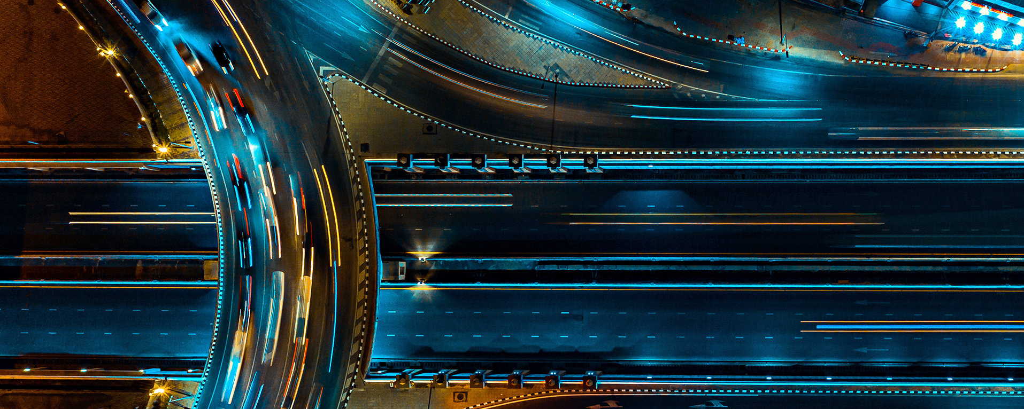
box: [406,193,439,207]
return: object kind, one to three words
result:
car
